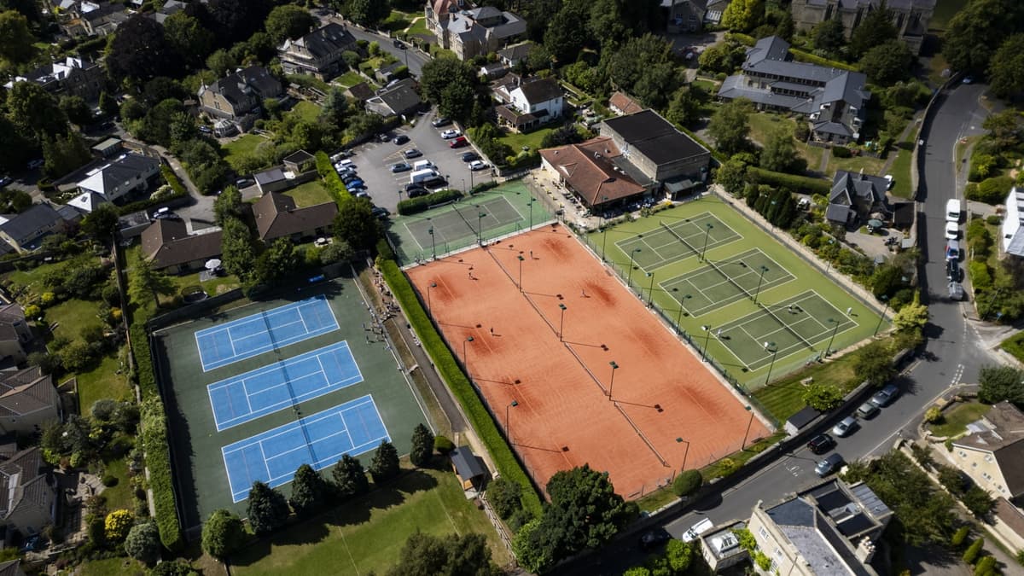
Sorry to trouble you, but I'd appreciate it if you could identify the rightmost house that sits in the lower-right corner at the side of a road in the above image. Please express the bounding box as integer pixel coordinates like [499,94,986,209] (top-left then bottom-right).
[945,402,1024,560]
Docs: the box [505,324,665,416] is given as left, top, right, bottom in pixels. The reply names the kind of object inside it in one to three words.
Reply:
tennis court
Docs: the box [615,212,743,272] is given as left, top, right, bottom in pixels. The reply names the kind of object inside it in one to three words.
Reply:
tennis court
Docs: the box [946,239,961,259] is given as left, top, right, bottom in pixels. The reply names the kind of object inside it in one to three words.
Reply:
car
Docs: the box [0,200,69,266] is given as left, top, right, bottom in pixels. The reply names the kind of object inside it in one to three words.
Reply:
house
